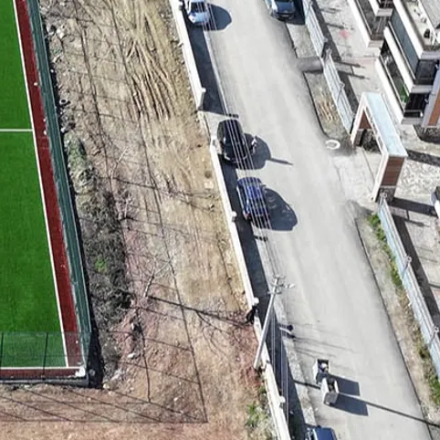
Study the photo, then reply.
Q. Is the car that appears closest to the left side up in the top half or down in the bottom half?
top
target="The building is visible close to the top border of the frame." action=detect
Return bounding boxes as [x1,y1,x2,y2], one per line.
[342,0,440,135]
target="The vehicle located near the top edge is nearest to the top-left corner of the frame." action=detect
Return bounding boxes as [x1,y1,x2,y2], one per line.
[181,0,210,23]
